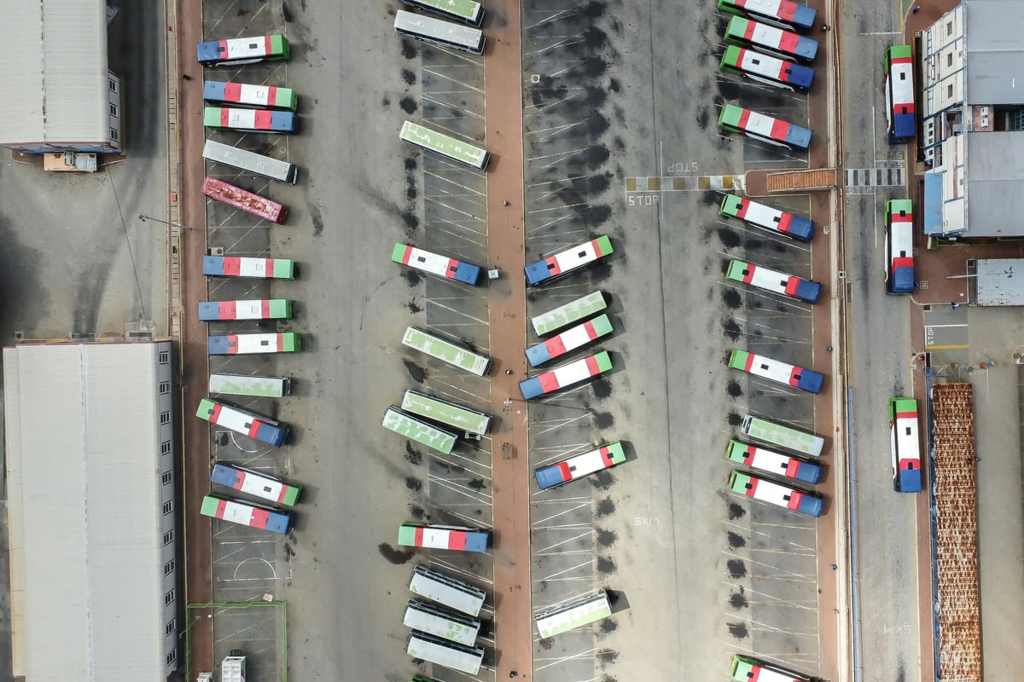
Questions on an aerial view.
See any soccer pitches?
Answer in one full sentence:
No, there appears to be no soccer pitch in this shot.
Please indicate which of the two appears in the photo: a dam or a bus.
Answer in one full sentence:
This aerial view contains a bus.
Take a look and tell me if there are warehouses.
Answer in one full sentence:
Yes, a warehouse appears in the view.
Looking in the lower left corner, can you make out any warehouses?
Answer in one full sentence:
Yes, I can see a warehouse in the lower left corner.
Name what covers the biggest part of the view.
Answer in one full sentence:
The scene is dominated by paved ground.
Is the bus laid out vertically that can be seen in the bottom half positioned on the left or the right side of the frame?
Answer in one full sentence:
You can find the bus laid out vertically that can be seen in the bottom half on the right side of the picture.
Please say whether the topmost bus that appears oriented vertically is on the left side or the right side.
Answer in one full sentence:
It is on the right.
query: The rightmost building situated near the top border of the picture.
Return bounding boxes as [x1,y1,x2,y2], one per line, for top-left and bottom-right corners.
[923,3,1024,247]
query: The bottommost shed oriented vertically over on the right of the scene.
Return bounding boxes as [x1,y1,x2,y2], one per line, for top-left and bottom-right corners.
[932,382,982,682]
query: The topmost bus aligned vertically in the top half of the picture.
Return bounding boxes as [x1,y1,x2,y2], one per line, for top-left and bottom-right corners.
[880,44,914,144]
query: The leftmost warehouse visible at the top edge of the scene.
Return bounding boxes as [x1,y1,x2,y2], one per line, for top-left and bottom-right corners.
[0,0,127,155]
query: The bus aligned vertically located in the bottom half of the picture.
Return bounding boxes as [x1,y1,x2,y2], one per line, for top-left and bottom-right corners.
[885,395,920,493]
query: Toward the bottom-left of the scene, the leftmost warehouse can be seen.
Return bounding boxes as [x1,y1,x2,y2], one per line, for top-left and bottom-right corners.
[6,344,186,682]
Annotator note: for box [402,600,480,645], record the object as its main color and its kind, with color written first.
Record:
white bus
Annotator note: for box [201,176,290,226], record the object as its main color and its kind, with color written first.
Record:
pink bus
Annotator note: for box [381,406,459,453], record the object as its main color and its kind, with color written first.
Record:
white bus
